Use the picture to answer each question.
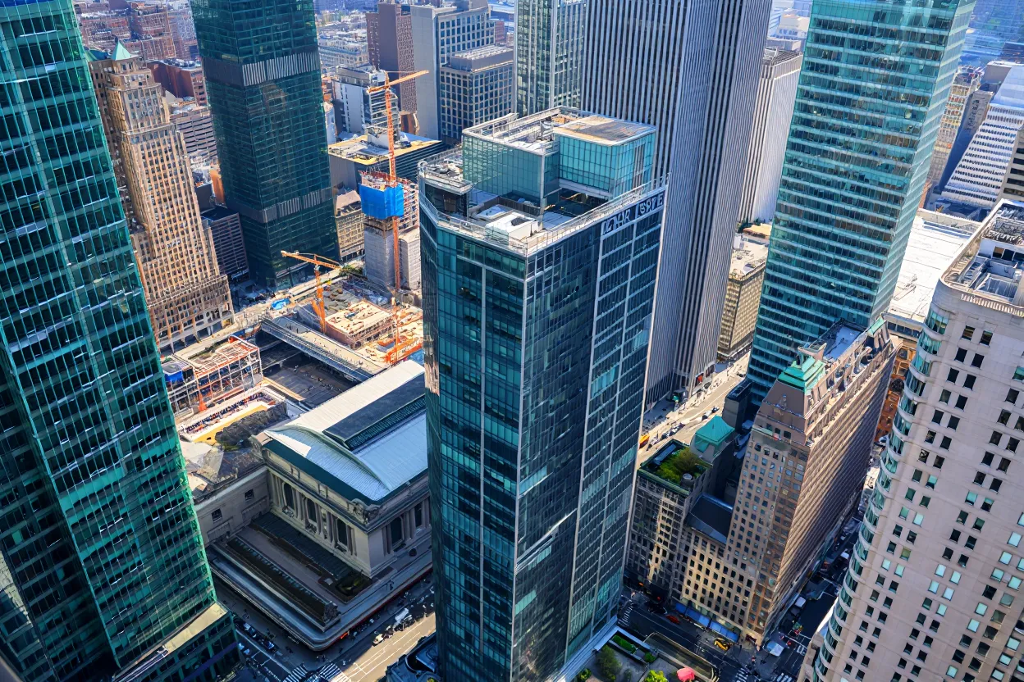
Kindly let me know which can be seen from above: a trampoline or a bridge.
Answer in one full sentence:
Looking from above, you can make out a bridge.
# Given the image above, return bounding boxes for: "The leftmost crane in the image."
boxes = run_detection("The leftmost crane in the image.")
[280,253,340,332]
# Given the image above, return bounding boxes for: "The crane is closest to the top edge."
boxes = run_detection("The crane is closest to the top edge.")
[368,61,429,292]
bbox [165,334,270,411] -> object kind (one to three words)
building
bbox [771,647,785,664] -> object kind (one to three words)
vehicle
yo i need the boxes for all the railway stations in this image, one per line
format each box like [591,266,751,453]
[182,357,433,581]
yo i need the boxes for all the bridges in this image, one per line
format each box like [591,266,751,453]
[254,313,389,386]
